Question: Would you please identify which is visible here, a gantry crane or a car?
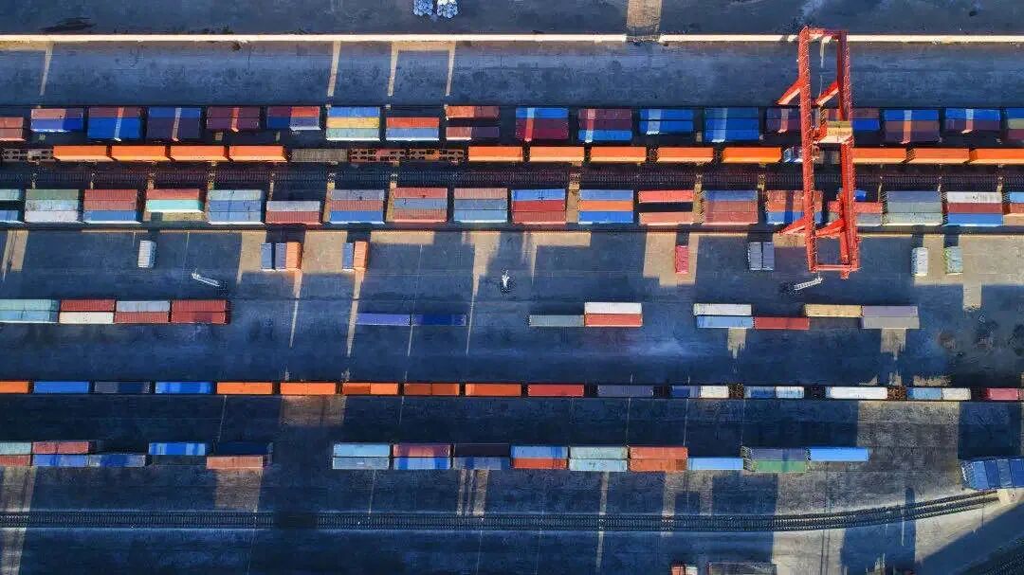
gantry crane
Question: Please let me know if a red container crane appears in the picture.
Yes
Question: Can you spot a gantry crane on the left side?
No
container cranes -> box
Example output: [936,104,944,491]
[774,24,862,280]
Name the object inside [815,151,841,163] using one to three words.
rail car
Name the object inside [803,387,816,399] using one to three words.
rail car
